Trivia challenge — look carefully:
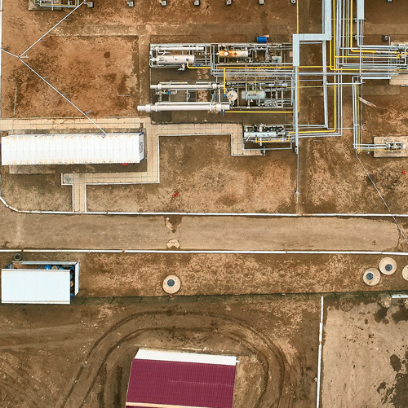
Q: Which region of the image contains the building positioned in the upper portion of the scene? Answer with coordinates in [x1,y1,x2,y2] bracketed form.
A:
[1,132,146,165]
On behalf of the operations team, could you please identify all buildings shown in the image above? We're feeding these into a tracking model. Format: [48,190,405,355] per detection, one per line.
[125,350,240,408]
[1,262,80,305]
[1,132,146,165]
